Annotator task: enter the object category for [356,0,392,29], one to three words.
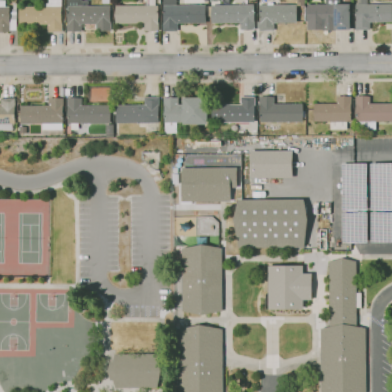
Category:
house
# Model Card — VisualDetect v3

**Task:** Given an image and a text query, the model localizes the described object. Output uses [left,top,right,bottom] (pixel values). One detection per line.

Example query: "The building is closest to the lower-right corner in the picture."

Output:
[322,327,366,392]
